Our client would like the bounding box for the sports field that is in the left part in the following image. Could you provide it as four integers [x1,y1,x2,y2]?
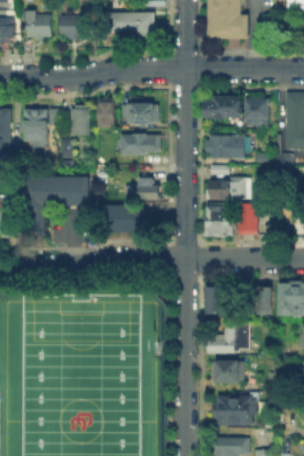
[0,293,165,456]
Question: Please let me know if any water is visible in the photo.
No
